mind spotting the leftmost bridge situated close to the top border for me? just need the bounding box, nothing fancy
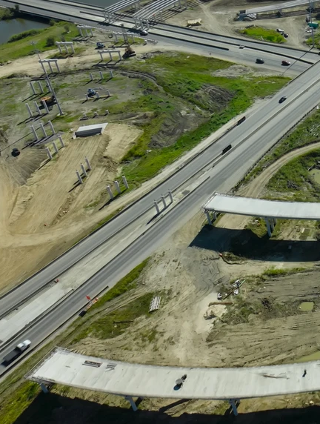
[28,0,88,26]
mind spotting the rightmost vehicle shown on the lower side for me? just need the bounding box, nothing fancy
[7,335,32,354]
